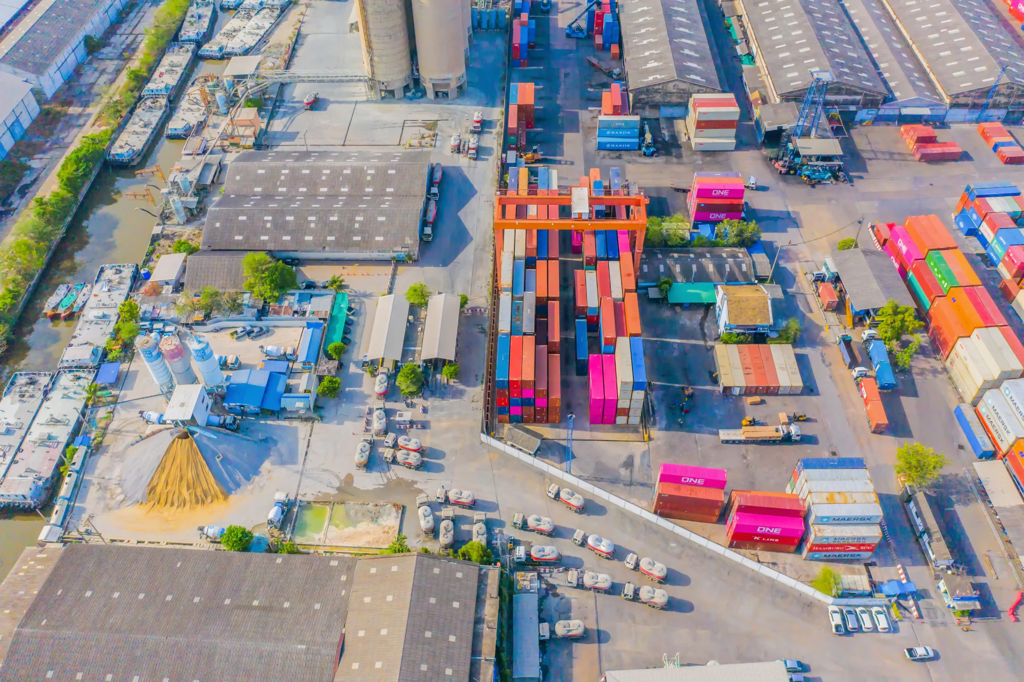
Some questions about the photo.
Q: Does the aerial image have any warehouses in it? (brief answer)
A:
Yes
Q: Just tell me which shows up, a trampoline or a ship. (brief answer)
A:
ship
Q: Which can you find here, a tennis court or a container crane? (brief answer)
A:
container crane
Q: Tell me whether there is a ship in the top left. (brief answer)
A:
Yes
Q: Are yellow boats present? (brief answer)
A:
No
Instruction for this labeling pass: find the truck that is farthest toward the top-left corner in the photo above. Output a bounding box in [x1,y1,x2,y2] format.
[303,92,324,113]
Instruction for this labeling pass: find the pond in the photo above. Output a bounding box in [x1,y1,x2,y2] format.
[289,498,404,550]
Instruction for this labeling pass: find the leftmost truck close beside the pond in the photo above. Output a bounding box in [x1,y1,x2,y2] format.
[265,494,292,537]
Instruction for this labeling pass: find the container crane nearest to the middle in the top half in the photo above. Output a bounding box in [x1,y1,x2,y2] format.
[493,182,650,303]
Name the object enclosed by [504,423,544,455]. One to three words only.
shed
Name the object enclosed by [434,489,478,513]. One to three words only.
truck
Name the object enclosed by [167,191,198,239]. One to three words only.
silo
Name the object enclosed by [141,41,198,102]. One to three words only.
ship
